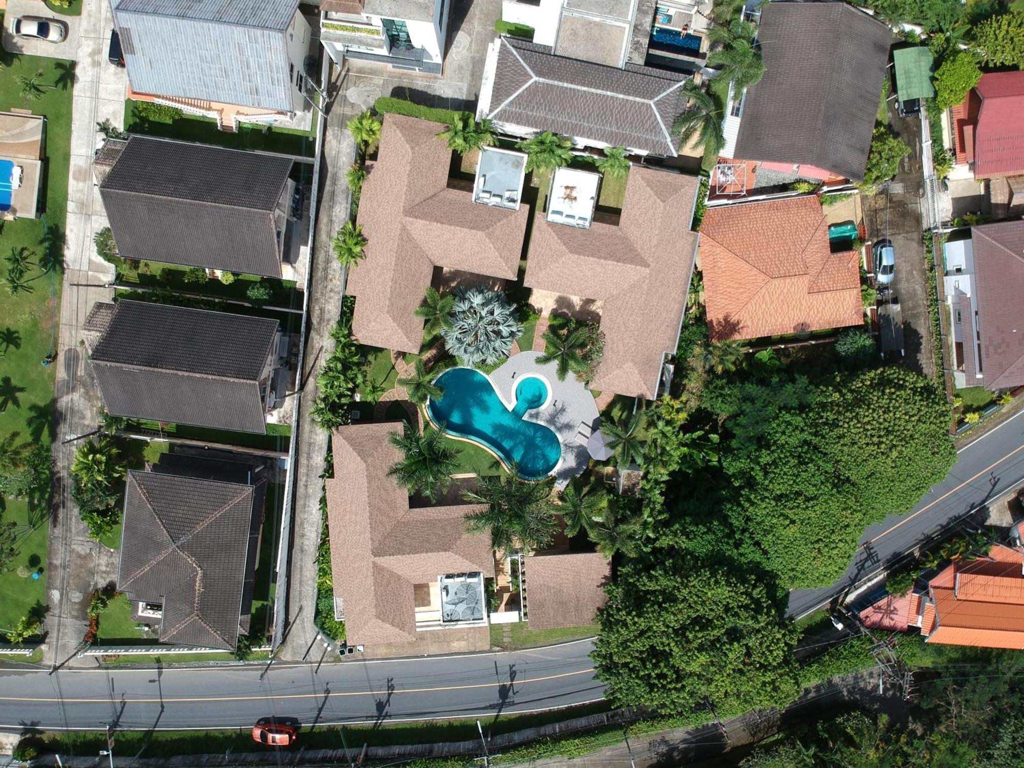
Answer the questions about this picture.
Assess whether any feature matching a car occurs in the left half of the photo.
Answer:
Yes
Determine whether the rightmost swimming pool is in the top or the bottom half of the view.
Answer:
top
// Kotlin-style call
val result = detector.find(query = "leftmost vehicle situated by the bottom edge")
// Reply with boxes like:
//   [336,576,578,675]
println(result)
[254,718,297,743]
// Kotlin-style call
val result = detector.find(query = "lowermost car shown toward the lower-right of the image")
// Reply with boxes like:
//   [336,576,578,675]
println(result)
[824,608,846,630]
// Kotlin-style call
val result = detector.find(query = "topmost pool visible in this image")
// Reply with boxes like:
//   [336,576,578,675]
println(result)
[647,0,713,72]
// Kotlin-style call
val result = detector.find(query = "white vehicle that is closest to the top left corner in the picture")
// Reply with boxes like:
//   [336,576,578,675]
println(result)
[10,17,66,45]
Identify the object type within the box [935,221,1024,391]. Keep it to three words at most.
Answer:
house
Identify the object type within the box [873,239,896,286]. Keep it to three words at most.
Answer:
car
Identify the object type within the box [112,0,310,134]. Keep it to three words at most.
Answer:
house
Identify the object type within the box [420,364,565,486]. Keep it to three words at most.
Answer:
swimming pool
